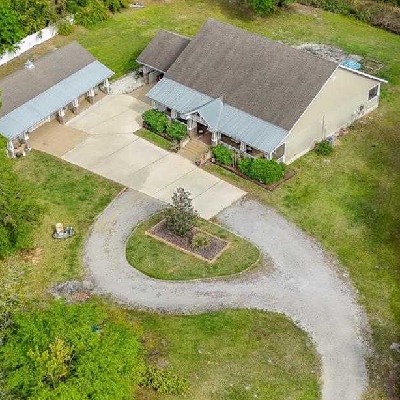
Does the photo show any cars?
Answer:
No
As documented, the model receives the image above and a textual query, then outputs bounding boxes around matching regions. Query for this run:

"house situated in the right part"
[135,18,389,170]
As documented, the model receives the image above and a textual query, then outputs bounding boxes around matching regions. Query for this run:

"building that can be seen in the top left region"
[0,41,115,158]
